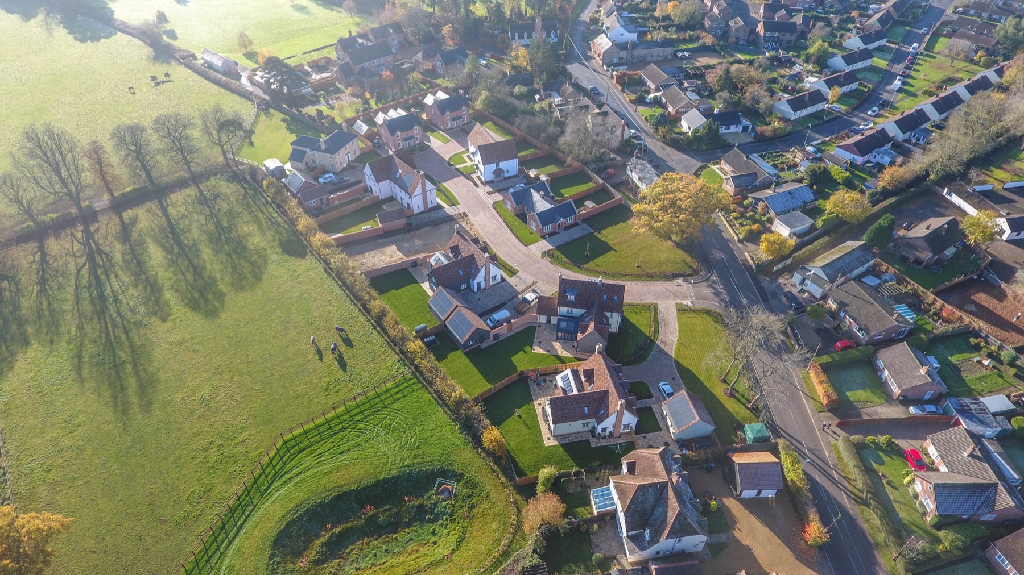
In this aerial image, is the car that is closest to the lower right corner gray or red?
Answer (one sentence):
The car that is closest to the lower right corner is red.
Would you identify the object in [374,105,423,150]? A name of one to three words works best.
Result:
house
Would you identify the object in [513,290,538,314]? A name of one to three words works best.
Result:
truck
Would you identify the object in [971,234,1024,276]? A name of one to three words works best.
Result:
barn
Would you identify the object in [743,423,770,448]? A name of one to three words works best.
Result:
gazebo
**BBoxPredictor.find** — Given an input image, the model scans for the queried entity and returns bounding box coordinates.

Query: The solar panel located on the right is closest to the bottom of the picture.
[666,395,695,429]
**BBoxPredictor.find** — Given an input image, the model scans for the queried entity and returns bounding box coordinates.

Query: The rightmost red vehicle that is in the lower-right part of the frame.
[901,449,926,472]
